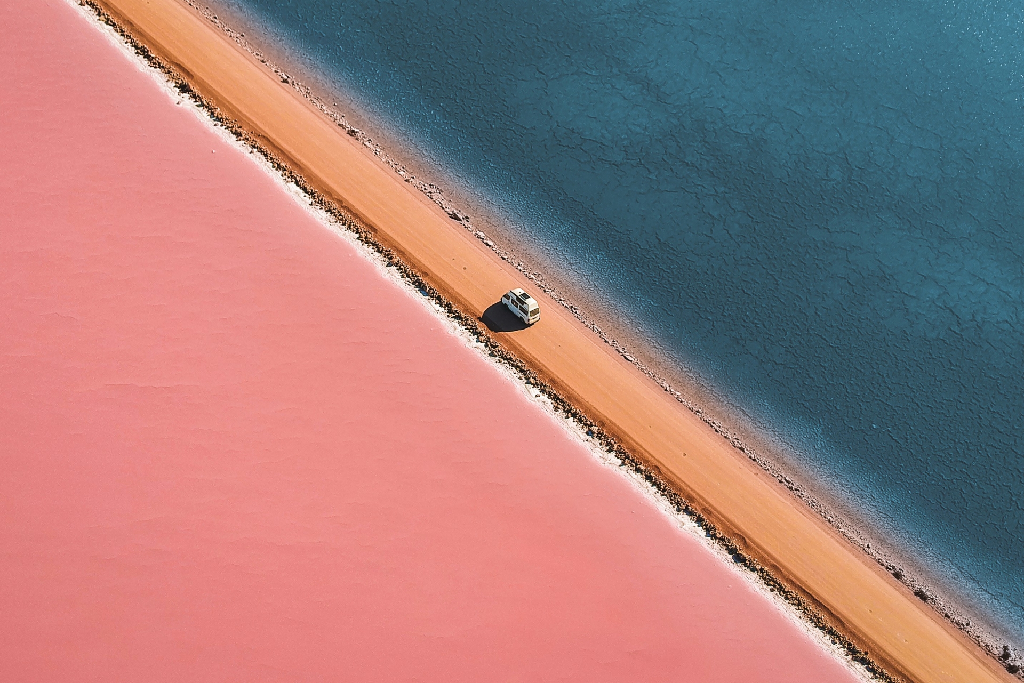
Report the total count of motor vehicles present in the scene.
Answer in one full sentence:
I count 1 motor vehicle.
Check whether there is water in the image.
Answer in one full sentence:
Yes, water can be seen from above here.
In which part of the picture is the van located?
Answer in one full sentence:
Look in the center portion of the view to spot the van.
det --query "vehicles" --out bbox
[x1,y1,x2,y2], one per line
[499,286,542,325]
